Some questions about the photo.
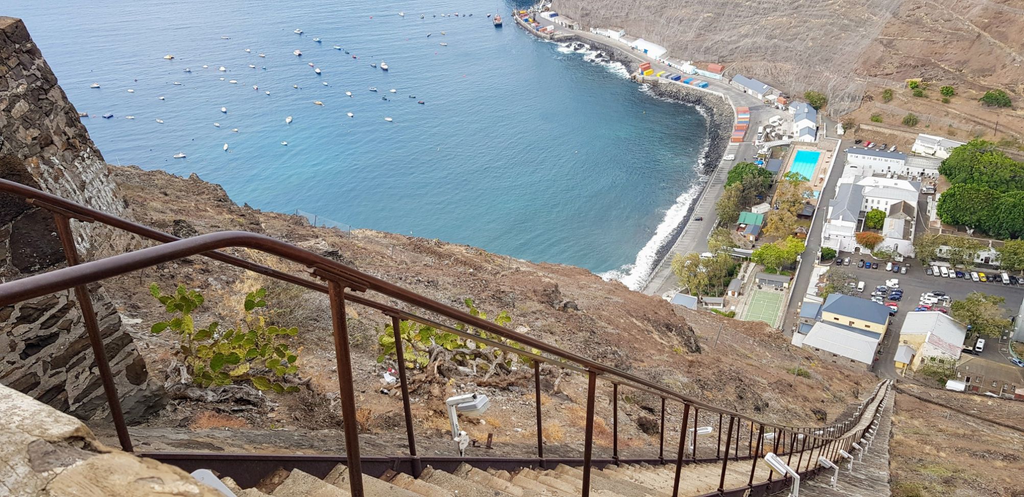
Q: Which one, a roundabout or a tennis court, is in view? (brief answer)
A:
tennis court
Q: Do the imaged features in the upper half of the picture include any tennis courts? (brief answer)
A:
No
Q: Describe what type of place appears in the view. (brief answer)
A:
port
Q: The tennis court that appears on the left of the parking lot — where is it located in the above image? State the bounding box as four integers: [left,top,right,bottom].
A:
[738,290,784,337]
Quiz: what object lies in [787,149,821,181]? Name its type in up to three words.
swimming pool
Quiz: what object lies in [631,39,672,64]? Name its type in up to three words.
shed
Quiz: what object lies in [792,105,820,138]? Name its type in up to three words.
building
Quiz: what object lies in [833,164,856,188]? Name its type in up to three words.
building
